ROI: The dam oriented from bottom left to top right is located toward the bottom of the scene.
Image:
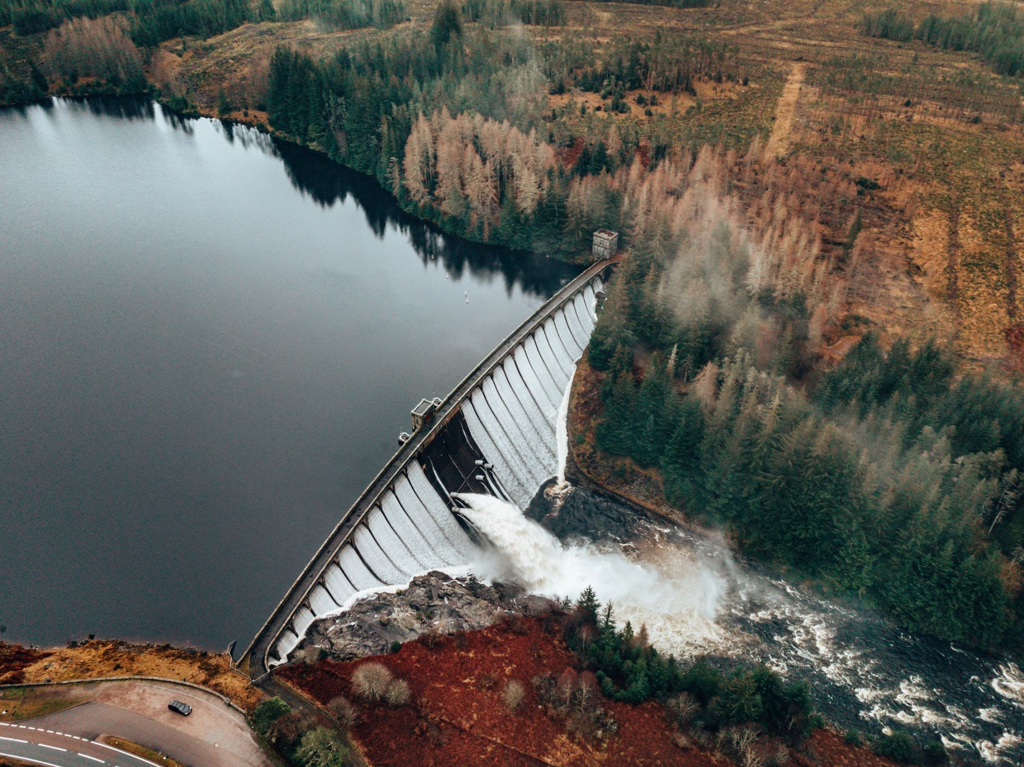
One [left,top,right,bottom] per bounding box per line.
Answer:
[236,258,618,687]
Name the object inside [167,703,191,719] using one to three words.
car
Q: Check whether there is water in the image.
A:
Yes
